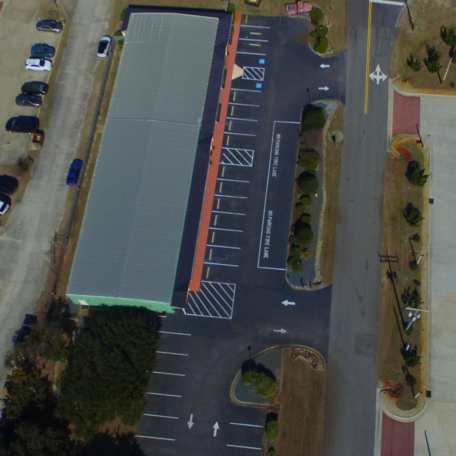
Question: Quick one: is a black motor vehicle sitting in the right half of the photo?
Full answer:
No, I see no black motor vehicle in the right half of the photo.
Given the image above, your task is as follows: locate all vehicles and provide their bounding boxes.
[66,157,86,186]
[24,55,53,72]
[35,20,63,35]
[0,177,23,193]
[12,94,43,109]
[19,80,50,95]
[7,115,40,132]
[284,0,313,15]
[28,42,58,59]
[96,36,113,59]
[0,200,10,215]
